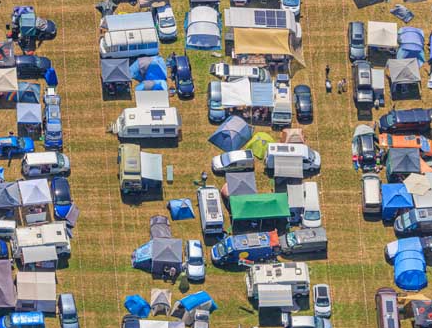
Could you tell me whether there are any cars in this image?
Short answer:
Yes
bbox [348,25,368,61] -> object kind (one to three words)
car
